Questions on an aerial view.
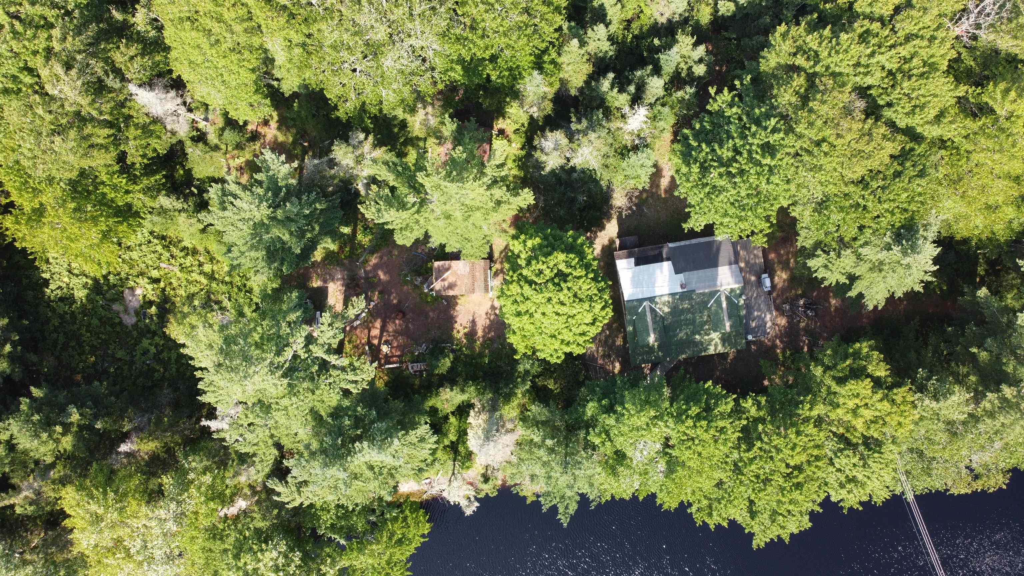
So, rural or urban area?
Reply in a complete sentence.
It looks rural.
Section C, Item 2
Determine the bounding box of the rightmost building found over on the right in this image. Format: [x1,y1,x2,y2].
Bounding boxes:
[615,234,781,367]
